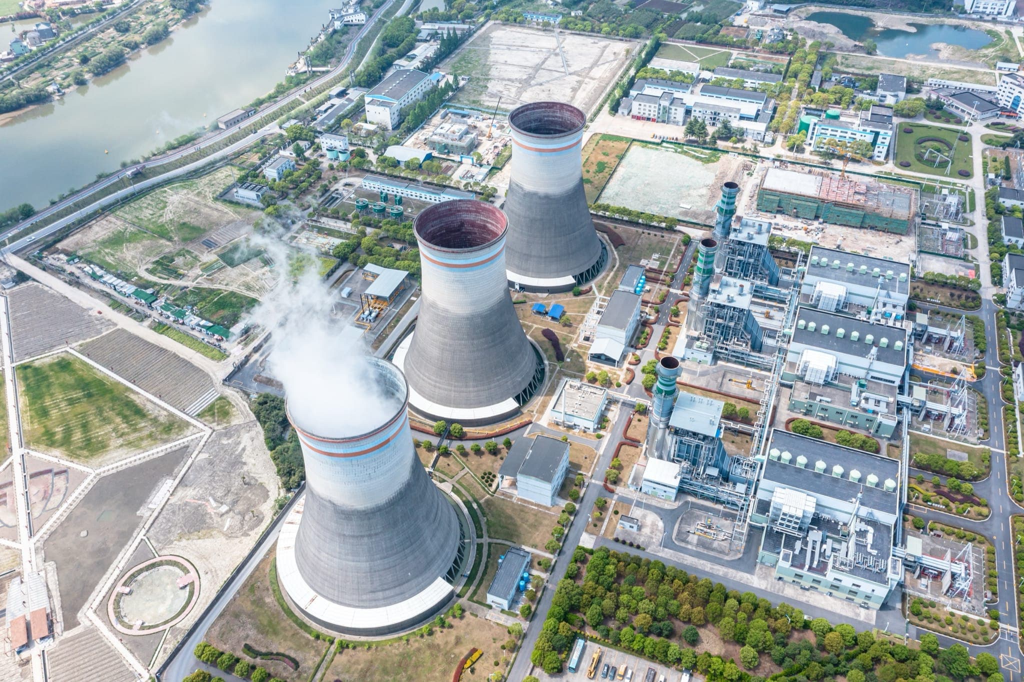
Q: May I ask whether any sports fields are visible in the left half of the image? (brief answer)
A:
No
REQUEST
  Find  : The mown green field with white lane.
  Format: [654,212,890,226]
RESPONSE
[632,43,730,69]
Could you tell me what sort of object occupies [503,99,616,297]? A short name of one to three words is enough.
cooling tower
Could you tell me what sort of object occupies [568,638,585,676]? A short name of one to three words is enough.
vehicle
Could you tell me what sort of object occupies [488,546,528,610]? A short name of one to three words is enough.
shed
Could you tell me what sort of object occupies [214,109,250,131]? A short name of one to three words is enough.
building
